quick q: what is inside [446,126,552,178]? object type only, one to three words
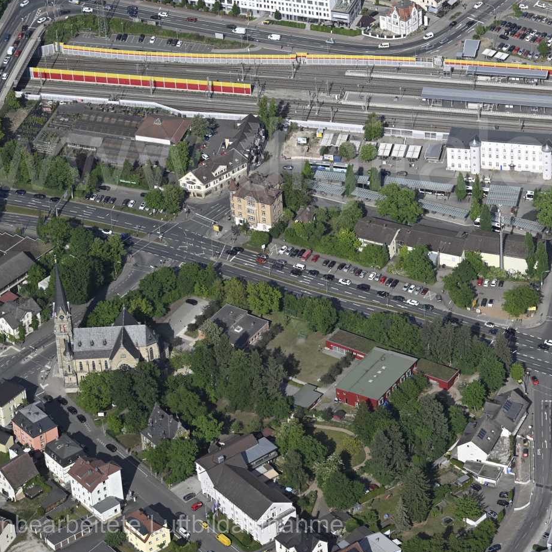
train station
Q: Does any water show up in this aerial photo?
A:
No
